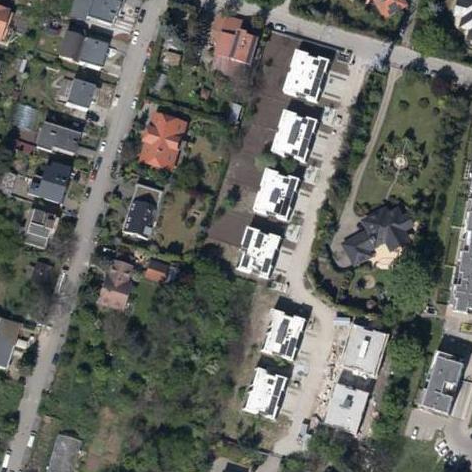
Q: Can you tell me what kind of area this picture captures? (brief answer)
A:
residential area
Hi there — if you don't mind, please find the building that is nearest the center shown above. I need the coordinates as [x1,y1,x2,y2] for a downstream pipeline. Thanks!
[236,227,282,281]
